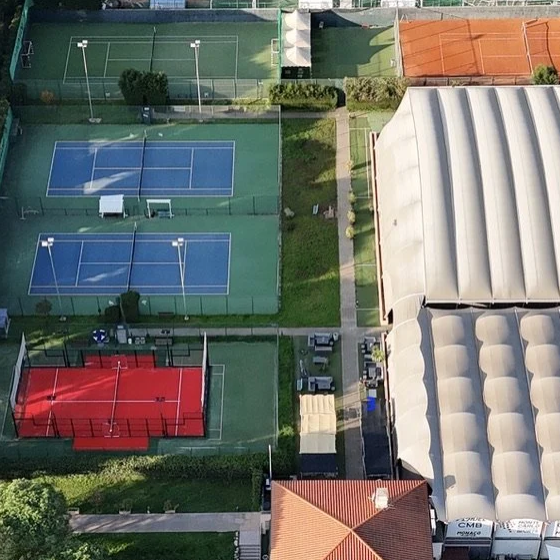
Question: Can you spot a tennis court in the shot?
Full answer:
Yes, there's a tennis court here.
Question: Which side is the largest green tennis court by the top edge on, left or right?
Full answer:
You can find the largest green tennis court by the top edge on the left side of the picture.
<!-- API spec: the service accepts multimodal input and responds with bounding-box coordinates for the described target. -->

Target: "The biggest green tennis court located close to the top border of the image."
[13,22,281,93]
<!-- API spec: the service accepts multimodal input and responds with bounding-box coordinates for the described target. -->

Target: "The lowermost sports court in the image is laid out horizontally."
[0,338,279,451]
